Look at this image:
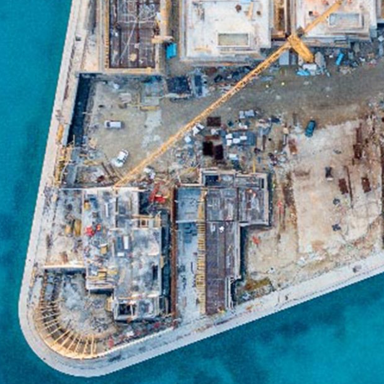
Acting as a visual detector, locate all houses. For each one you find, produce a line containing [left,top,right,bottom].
[179,0,277,63]
[289,0,382,47]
